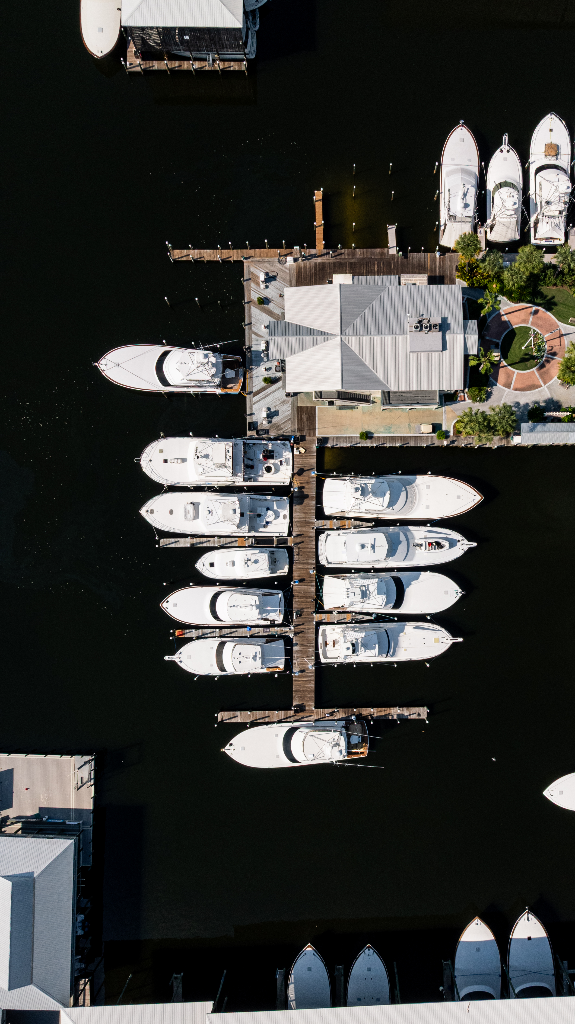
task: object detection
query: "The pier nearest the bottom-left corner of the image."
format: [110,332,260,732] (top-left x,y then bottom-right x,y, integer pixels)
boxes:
[72,977,92,1006]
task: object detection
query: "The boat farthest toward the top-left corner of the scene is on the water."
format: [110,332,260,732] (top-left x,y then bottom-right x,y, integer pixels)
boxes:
[81,0,121,61]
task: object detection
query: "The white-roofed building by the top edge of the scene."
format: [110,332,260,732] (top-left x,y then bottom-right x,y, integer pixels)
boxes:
[120,0,251,69]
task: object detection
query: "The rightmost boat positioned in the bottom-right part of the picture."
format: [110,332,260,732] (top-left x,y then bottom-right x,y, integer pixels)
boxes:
[543,771,575,813]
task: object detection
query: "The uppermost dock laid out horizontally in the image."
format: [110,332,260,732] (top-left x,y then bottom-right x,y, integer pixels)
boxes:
[127,61,247,76]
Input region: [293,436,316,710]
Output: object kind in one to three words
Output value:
pier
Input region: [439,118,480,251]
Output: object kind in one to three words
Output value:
boat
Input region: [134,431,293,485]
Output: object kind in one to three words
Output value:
boat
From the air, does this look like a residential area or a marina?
marina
